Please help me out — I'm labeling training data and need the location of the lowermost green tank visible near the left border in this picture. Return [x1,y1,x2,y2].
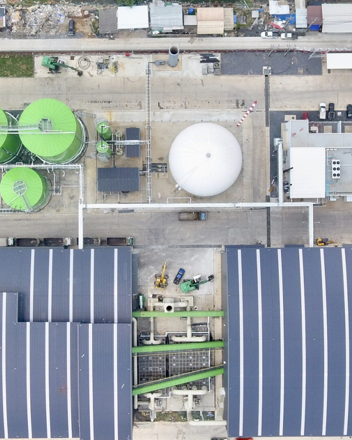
[0,166,51,211]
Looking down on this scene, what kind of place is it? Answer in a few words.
industrial area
